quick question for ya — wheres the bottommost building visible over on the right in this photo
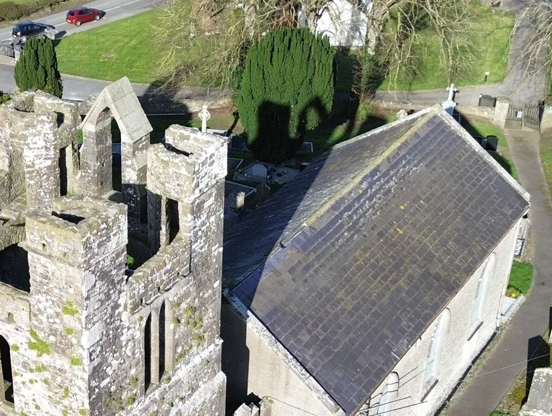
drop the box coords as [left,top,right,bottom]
[222,67,534,416]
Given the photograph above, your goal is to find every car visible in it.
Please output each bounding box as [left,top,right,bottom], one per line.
[64,4,106,26]
[8,18,55,38]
